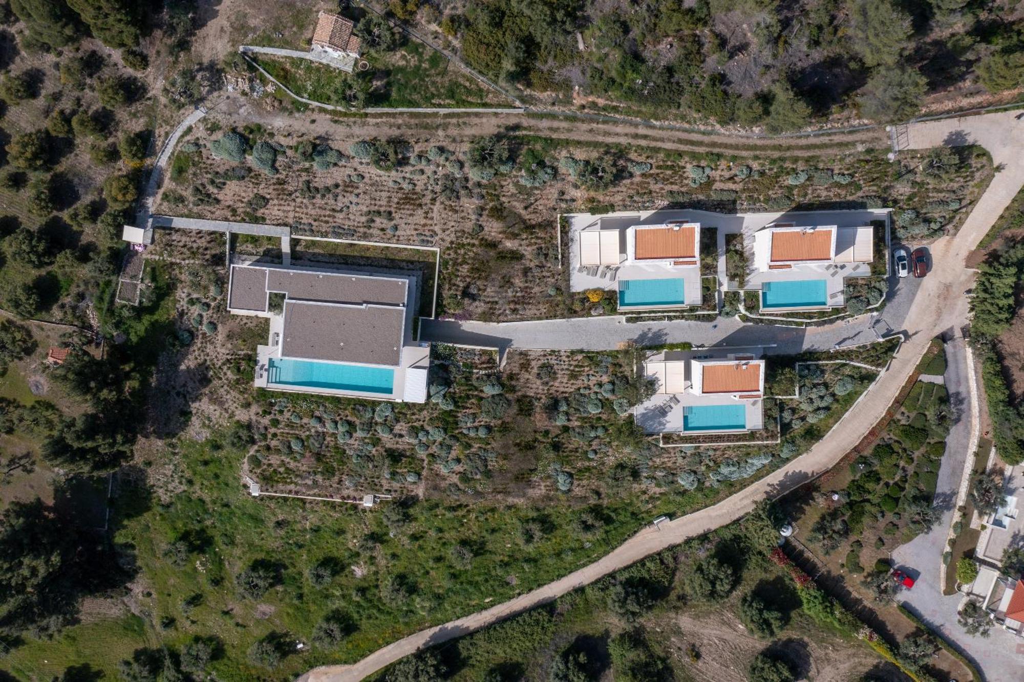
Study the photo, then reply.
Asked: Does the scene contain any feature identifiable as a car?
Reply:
Yes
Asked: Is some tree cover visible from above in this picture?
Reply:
Yes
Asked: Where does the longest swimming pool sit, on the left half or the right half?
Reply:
left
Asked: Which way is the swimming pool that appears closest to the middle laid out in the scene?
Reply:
from side to side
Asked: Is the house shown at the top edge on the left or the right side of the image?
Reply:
left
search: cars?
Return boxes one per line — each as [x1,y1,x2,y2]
[911,248,929,277]
[893,248,911,277]
[893,569,916,591]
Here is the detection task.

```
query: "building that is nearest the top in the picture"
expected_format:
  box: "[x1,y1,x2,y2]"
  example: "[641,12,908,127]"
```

[313,12,364,61]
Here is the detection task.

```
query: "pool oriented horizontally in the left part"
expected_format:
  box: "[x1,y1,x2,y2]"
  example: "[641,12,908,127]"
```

[268,358,394,394]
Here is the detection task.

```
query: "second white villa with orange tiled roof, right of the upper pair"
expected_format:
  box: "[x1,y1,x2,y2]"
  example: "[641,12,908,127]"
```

[749,222,837,274]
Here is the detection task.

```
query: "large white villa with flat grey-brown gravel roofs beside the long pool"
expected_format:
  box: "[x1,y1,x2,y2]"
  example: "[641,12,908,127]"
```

[228,264,412,367]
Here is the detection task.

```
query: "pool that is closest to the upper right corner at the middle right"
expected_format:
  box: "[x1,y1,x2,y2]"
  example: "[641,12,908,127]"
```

[762,280,826,309]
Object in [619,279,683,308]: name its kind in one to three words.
swimming pool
